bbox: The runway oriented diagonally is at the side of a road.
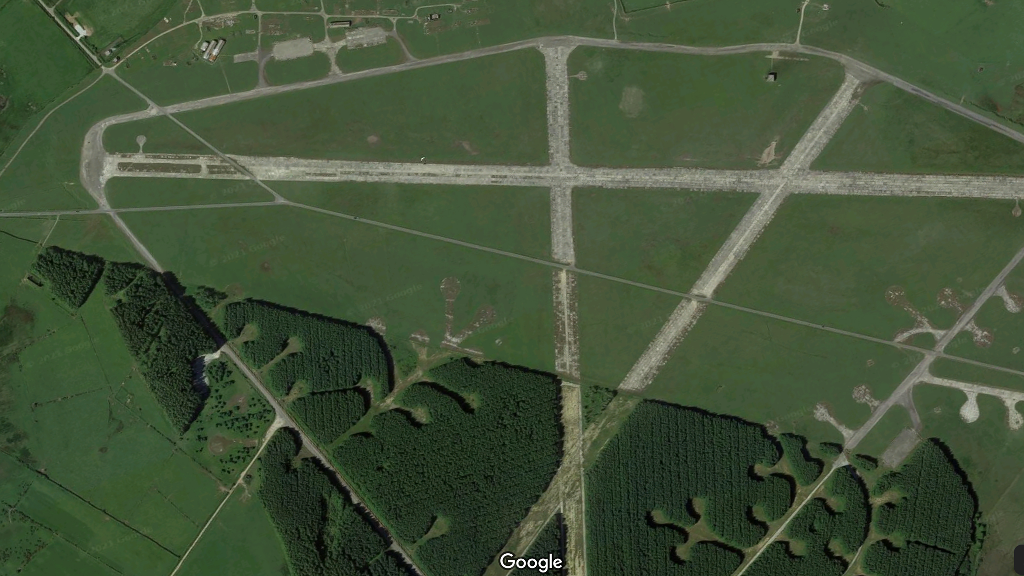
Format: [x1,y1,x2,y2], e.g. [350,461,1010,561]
[618,55,885,391]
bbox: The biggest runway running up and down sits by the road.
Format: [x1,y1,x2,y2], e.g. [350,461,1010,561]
[532,45,578,264]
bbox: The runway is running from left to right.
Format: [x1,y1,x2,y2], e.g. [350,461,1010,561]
[103,153,1024,199]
